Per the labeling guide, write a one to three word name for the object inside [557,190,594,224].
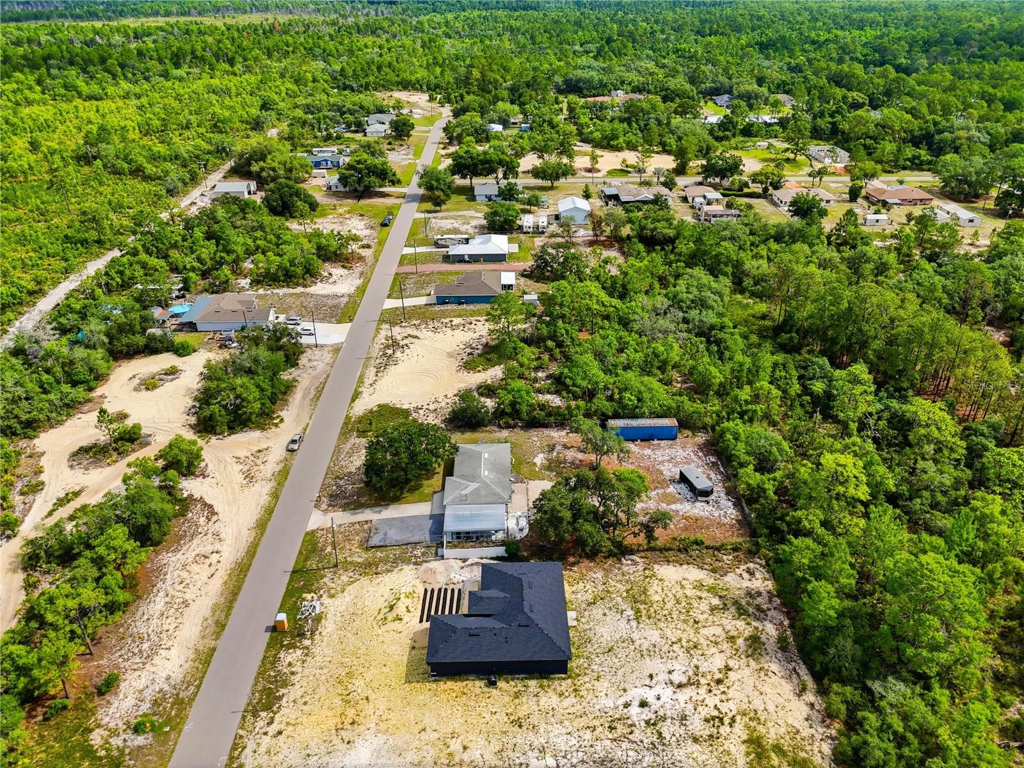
building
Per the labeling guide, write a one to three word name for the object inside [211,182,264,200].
building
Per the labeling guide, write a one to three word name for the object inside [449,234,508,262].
house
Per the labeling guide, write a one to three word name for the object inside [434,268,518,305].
house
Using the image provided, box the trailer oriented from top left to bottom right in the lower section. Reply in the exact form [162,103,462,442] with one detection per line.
[676,465,710,505]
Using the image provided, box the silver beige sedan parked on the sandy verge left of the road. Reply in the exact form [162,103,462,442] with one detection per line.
[284,432,305,451]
